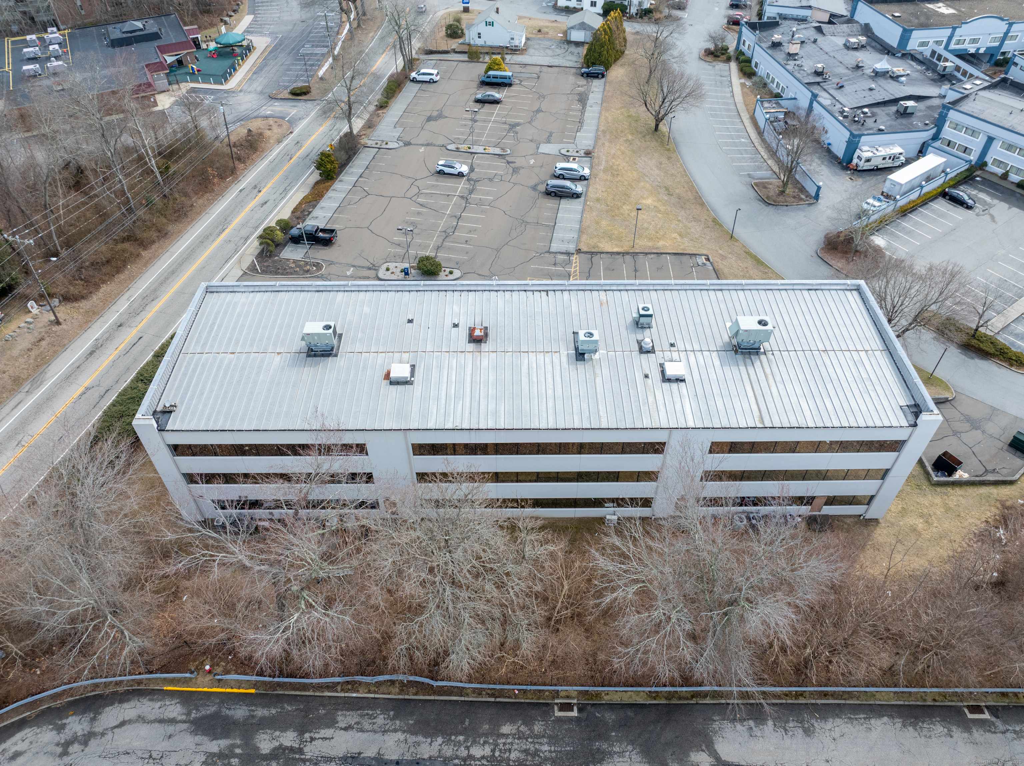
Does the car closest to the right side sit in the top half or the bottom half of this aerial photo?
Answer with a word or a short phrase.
top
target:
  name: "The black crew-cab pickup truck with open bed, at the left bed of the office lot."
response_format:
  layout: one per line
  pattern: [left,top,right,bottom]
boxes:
[288,222,340,243]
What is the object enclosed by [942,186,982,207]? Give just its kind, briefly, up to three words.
car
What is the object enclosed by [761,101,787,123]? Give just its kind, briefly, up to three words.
shed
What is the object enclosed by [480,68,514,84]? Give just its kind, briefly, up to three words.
vehicle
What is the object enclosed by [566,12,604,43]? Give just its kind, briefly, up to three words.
building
